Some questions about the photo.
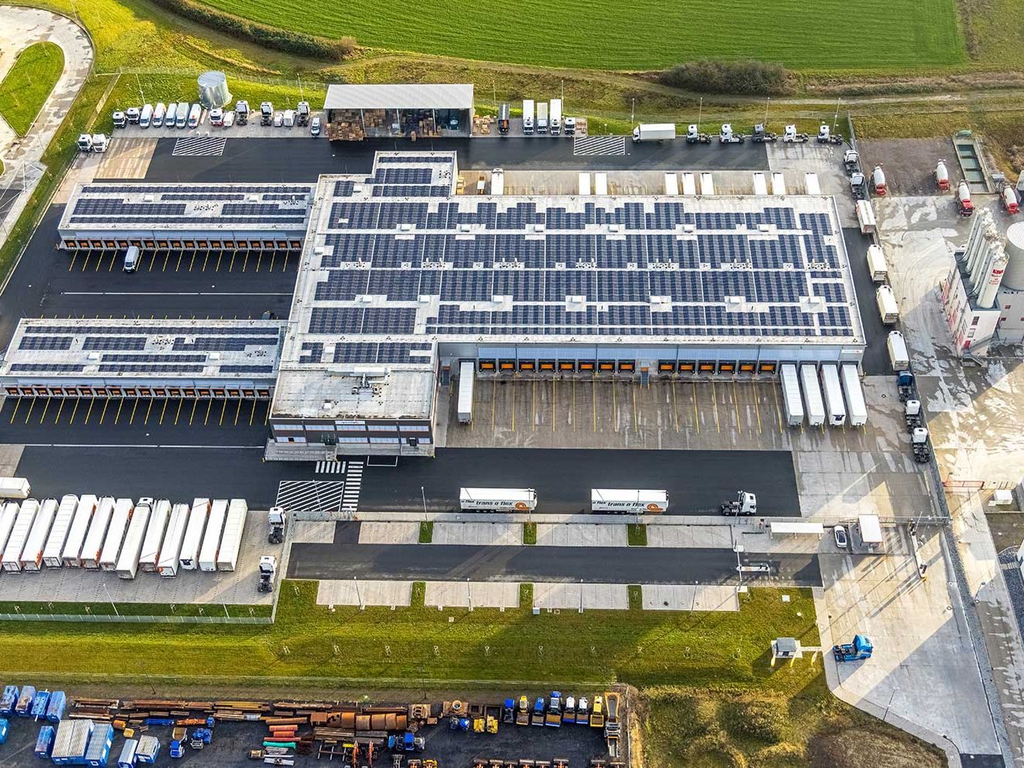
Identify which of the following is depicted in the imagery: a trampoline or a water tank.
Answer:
water tank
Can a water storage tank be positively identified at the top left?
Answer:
Yes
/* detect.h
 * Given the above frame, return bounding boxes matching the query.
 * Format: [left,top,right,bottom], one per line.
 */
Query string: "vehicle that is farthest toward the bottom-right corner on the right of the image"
[836,635,877,660]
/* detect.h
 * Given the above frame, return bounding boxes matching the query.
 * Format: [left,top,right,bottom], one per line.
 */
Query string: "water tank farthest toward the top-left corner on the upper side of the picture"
[198,68,234,106]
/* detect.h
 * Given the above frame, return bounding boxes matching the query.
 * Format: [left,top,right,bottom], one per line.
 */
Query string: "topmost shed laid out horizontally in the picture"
[322,82,475,136]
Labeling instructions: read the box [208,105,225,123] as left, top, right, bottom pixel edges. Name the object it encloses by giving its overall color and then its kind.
white vehicle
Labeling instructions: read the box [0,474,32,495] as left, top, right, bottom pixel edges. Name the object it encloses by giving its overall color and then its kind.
white trailer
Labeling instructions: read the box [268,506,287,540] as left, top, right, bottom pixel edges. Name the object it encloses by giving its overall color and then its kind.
white vehicle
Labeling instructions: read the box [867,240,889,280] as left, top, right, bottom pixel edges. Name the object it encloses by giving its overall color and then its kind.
white truck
